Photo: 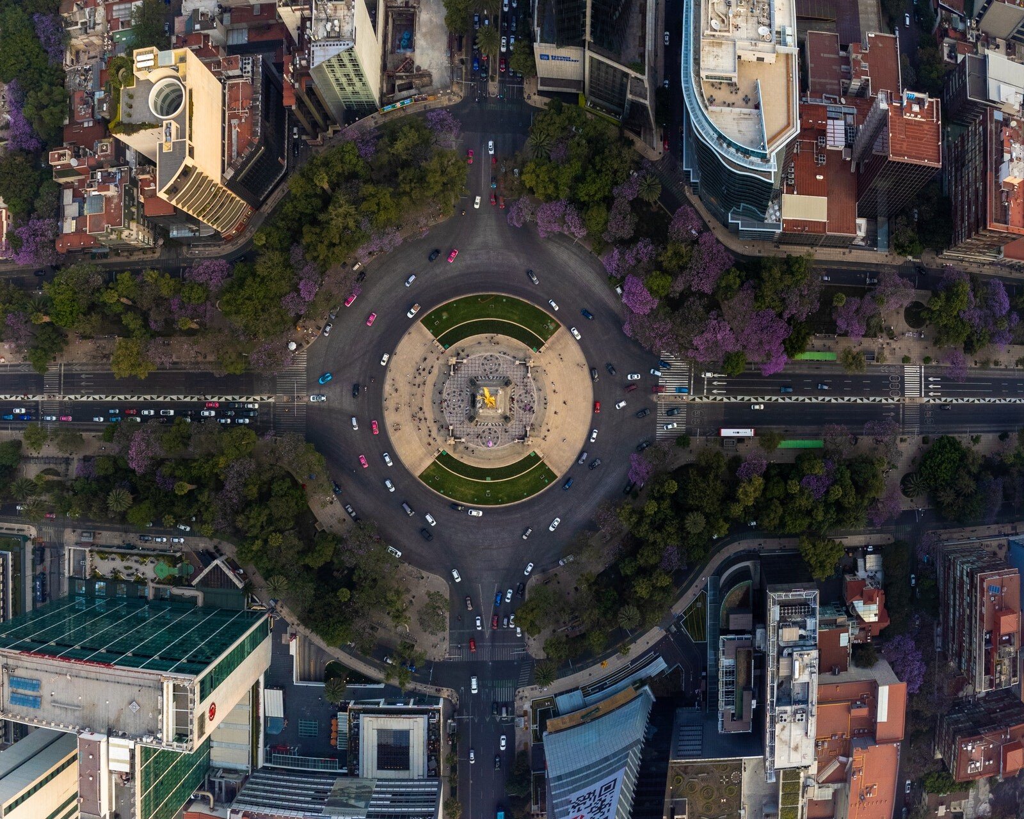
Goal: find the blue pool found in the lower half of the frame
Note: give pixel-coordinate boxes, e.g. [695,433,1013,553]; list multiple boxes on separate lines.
[269,717,284,736]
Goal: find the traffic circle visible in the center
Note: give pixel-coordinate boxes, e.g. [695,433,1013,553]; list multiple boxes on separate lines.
[299,210,677,589]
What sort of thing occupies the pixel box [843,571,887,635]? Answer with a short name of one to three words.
house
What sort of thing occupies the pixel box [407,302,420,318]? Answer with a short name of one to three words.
vehicle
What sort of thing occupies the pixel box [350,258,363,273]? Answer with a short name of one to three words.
vehicle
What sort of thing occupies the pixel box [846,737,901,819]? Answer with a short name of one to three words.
building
